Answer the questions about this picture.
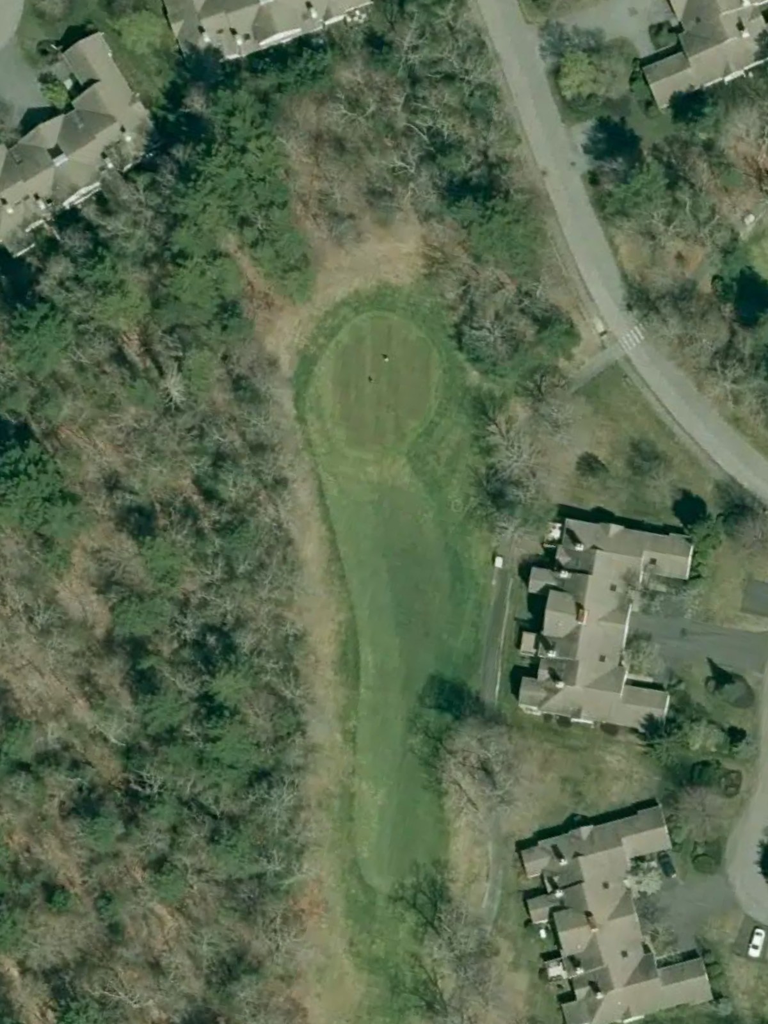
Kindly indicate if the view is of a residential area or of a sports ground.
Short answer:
residential area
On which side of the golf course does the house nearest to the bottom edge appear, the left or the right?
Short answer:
on the right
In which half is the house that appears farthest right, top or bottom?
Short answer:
top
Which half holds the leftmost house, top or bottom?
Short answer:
top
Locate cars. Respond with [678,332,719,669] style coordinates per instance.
[748,927,765,958]
[657,849,677,880]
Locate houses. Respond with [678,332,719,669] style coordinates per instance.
[517,518,695,729]
[0,33,156,259]
[642,0,768,108]
[518,803,713,1024]
[159,0,423,64]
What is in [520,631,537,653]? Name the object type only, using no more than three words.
shed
